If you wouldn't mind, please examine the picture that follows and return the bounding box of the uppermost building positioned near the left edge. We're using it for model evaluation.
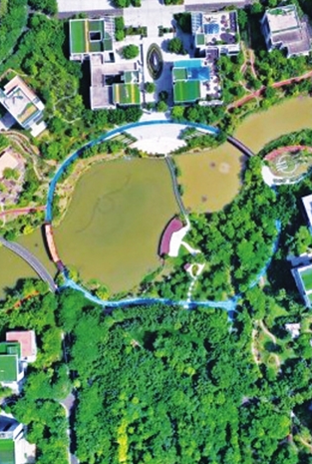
[0,76,48,138]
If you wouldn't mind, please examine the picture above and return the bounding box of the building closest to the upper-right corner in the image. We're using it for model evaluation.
[261,4,312,61]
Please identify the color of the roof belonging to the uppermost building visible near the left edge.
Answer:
white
